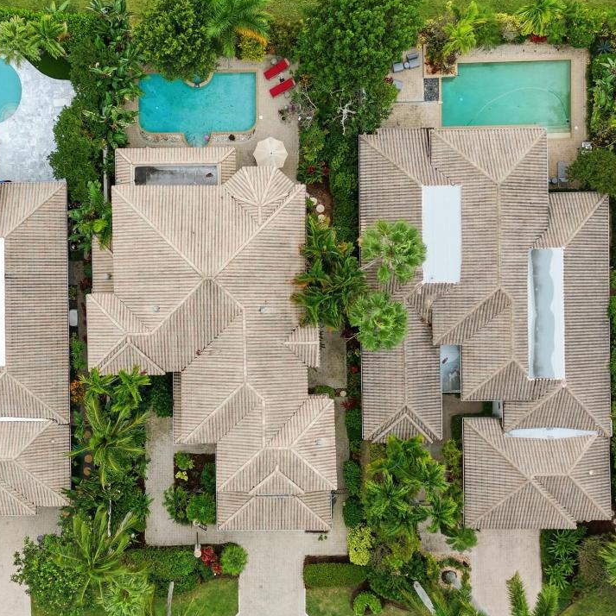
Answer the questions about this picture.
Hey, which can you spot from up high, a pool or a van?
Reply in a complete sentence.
Visible in the photo is a pool.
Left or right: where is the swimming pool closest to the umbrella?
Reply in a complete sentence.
The swimming pool closest to the umbrella appears in the left half of the scene.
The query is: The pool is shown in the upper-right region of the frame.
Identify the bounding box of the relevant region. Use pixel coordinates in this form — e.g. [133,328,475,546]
[438,56,575,136]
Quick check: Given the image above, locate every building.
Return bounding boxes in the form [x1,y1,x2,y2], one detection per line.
[85,146,339,531]
[0,181,73,516]
[358,127,614,530]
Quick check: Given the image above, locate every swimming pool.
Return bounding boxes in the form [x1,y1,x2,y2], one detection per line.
[136,68,260,147]
[438,56,575,136]
[0,58,26,126]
